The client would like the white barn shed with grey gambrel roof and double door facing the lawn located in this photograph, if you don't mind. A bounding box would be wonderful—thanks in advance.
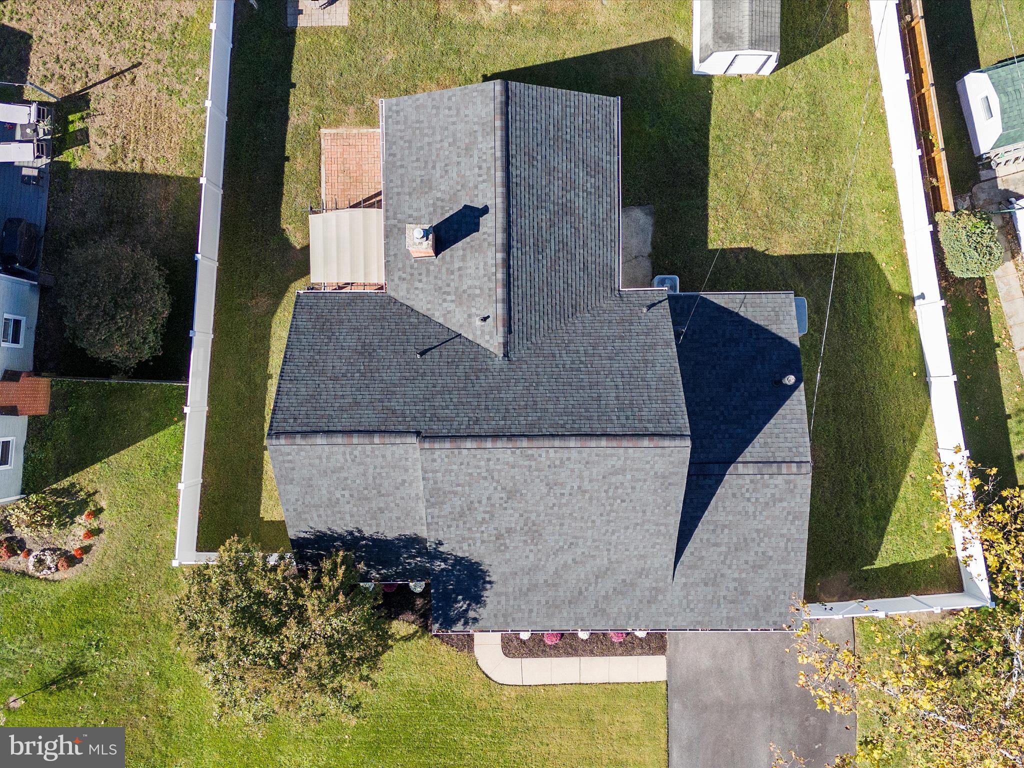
[693,0,782,75]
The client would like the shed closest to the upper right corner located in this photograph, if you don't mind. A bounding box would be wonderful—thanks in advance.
[955,57,1024,157]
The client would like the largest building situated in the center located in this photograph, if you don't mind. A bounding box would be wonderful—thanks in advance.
[268,80,811,636]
